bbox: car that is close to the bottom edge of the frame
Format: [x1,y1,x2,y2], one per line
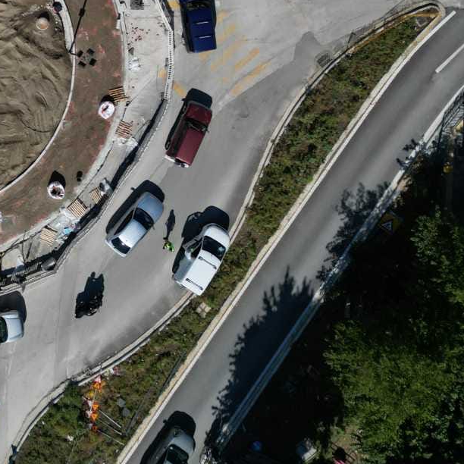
[141,411,198,464]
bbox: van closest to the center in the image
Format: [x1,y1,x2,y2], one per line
[172,220,230,302]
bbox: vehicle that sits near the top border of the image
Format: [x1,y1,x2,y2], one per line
[178,0,217,53]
